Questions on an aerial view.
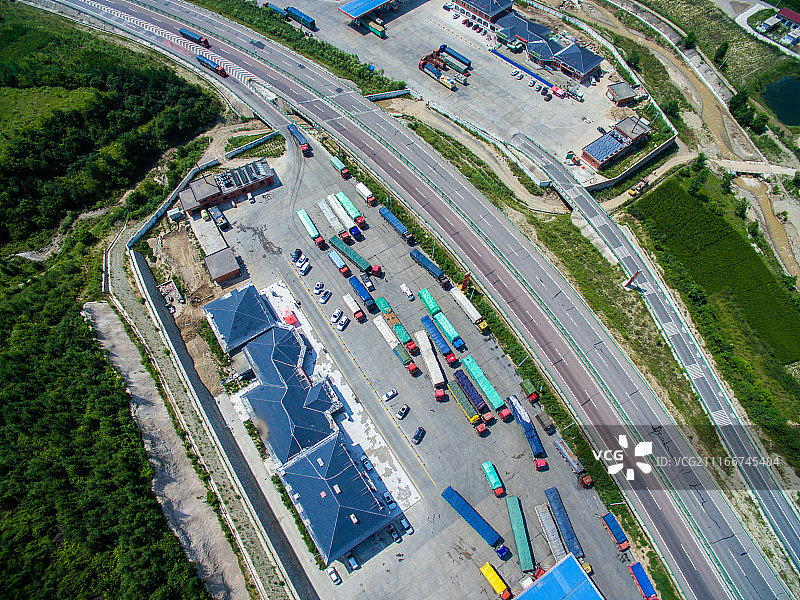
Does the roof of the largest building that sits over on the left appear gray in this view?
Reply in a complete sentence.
No, the color of the roof of the largest building that sits over on the left is blue.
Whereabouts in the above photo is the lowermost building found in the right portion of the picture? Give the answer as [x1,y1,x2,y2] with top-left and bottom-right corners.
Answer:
[580,115,651,172]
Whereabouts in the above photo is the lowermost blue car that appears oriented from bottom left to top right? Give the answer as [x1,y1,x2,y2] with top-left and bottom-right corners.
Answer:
[412,427,426,445]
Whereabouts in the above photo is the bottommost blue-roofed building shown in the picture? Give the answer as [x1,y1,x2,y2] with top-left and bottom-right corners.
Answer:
[202,284,391,565]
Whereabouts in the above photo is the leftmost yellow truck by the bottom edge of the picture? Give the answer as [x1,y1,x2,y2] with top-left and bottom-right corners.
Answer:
[478,562,512,600]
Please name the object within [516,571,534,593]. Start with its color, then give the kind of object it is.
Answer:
white vehicle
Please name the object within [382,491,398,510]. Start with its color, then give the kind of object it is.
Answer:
blue car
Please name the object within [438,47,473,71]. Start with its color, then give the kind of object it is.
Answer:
blue truck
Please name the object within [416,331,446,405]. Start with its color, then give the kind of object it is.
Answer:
white truck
